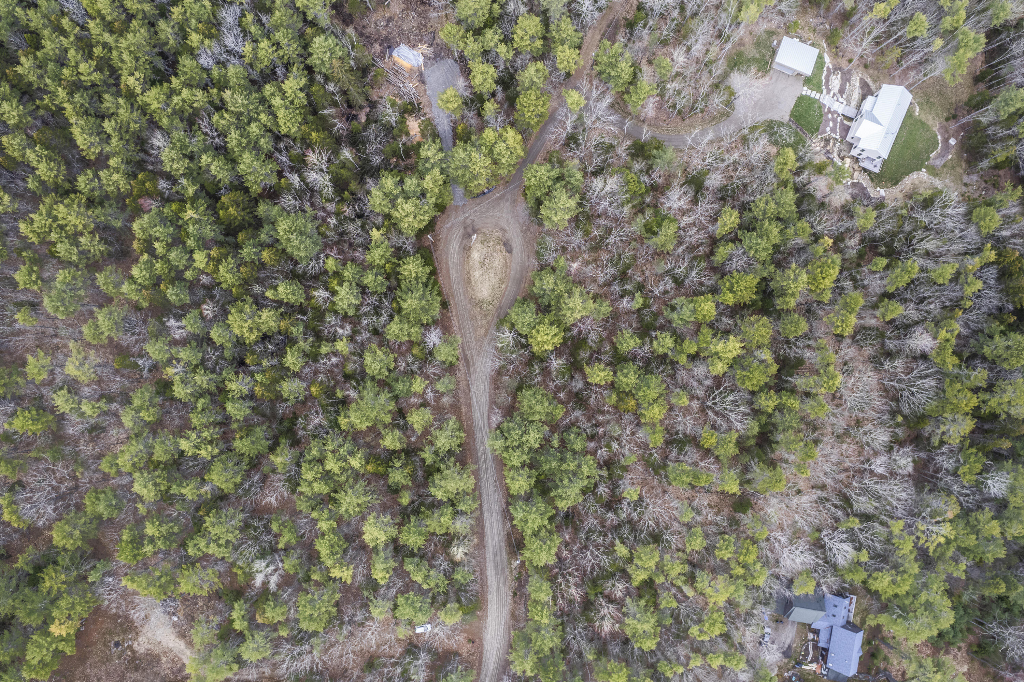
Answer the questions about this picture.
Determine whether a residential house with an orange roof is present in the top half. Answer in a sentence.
No, there is no residential house with an orange roof in the top half.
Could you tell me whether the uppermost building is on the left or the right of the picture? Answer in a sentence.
You can find the uppermost building on the right side of the picture.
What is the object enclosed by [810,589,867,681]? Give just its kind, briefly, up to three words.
house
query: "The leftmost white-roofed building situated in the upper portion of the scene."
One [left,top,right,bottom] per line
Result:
[770,36,819,77]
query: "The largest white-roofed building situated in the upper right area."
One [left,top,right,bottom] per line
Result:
[845,84,913,172]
